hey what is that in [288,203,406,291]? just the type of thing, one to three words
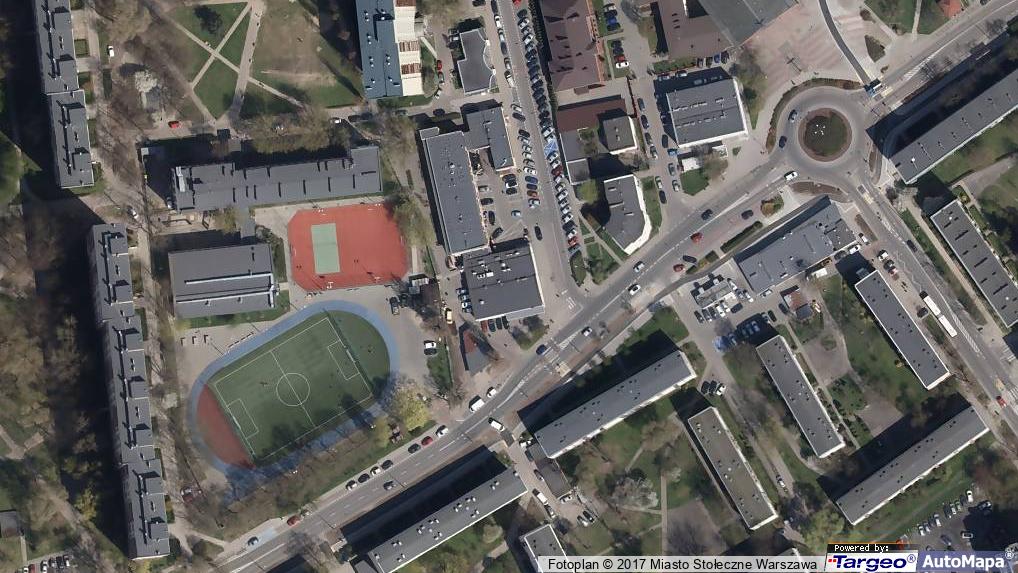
sports court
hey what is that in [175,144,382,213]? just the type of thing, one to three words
building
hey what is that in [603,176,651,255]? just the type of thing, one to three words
house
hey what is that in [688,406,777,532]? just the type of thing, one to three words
building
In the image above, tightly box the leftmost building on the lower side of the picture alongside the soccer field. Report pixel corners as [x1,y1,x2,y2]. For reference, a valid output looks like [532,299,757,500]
[90,222,175,561]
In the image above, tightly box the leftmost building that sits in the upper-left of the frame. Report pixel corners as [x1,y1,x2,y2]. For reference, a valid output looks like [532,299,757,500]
[33,0,98,193]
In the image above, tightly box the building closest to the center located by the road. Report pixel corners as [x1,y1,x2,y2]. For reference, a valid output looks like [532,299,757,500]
[462,243,546,322]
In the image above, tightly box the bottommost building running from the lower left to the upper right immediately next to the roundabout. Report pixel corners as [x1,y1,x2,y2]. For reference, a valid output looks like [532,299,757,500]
[739,203,857,297]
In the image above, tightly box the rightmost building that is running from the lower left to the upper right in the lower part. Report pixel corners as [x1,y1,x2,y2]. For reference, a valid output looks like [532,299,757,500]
[836,406,990,528]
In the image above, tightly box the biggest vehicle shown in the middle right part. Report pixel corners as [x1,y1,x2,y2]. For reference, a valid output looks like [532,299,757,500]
[921,291,957,337]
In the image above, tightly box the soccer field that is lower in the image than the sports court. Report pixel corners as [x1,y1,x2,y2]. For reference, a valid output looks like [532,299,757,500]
[187,296,402,506]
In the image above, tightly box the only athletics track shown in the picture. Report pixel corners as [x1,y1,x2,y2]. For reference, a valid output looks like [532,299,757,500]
[187,296,402,481]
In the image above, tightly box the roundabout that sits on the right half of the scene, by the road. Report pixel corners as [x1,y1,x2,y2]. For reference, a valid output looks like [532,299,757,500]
[776,86,874,183]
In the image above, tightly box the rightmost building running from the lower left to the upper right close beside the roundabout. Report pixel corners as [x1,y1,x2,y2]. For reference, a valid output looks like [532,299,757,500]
[891,71,1018,187]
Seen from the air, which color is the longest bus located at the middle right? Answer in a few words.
white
